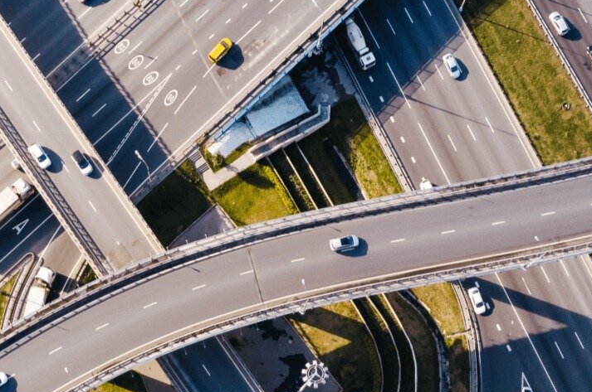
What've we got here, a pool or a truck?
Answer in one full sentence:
Of the two, only a truck appears.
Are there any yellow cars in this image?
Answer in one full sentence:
Yes, you can see a yellow car in this photo.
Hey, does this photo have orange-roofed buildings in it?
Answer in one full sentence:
No, the photo shows no orange-roofed building.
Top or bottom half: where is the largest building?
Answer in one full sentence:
Seen from above, the largest building lies in the top half of the view.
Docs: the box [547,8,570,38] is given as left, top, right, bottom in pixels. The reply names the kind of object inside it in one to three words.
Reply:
car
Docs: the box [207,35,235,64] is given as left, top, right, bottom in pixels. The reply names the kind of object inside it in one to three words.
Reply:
car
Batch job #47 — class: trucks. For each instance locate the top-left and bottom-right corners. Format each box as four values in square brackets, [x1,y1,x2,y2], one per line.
[20,260,58,317]
[343,16,379,75]
[0,175,32,219]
